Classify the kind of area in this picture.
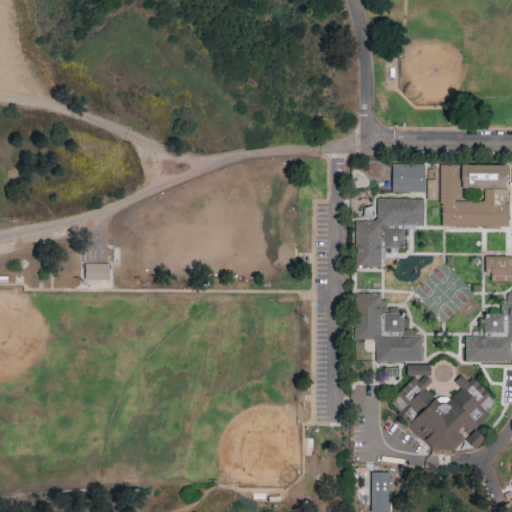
sports ground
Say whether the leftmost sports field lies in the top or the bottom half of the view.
bottom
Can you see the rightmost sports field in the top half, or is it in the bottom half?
top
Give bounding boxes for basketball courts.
[430,264,472,307]
[415,278,458,322]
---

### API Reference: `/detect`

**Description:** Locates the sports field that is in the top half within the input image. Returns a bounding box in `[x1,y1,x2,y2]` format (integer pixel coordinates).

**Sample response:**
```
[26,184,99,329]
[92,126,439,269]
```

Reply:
[401,0,512,105]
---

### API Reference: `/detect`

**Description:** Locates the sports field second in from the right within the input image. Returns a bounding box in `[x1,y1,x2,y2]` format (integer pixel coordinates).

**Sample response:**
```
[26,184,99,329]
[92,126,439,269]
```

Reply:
[170,292,302,487]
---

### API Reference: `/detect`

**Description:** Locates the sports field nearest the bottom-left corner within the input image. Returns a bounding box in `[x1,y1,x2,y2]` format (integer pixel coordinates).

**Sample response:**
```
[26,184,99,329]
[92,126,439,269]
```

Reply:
[0,290,170,487]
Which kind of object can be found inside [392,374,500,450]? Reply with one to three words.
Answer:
building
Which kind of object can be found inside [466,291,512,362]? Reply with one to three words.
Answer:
building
